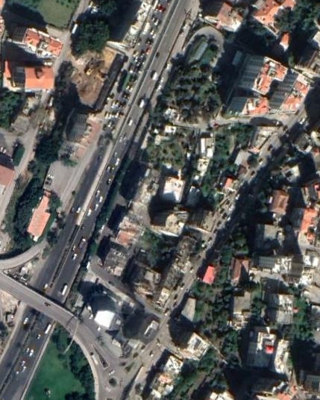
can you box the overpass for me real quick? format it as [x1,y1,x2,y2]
[0,267,112,354]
